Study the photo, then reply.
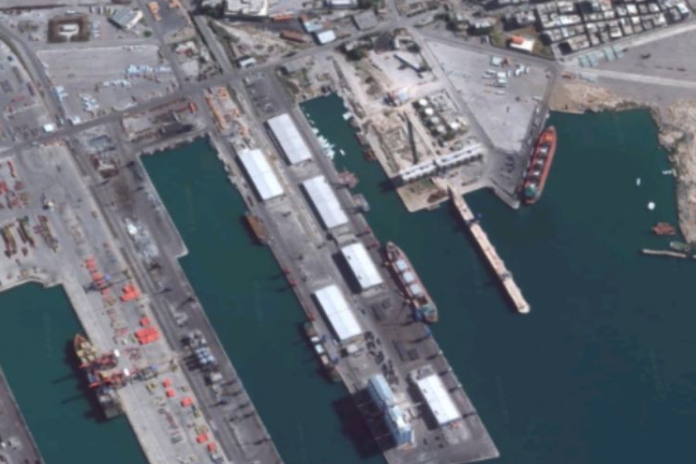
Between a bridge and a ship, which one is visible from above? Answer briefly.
ship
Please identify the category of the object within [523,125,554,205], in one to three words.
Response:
ship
